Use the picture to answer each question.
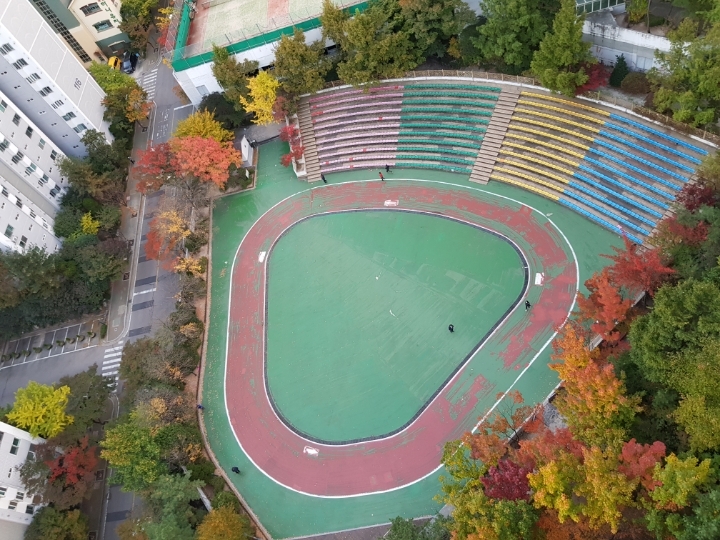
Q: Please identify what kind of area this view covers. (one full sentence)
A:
It's a sports ground.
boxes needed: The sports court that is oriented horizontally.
[177,0,352,60]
